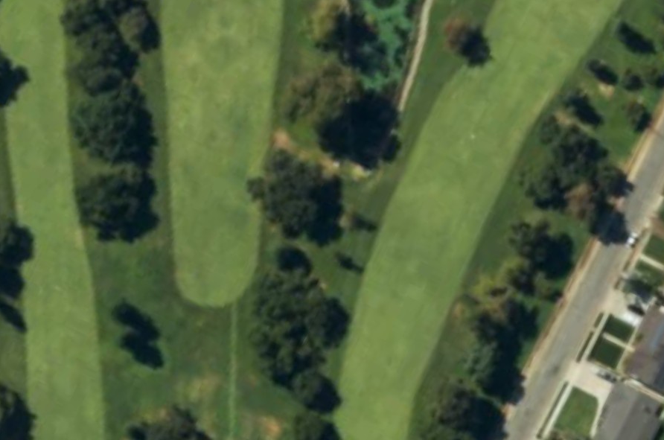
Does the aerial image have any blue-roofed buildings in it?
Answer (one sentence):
No, the scene contains no blue-roofed building.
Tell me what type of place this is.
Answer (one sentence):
What you see here is a golf course.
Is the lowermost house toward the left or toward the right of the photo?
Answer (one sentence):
The lowermost house appears in the right half of the scene.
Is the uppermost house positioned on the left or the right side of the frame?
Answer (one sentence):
The uppermost house is on the right side of the image.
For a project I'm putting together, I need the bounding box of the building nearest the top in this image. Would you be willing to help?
[620,306,664,393]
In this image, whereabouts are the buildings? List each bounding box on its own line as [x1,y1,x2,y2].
[590,382,663,440]
[620,306,664,393]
